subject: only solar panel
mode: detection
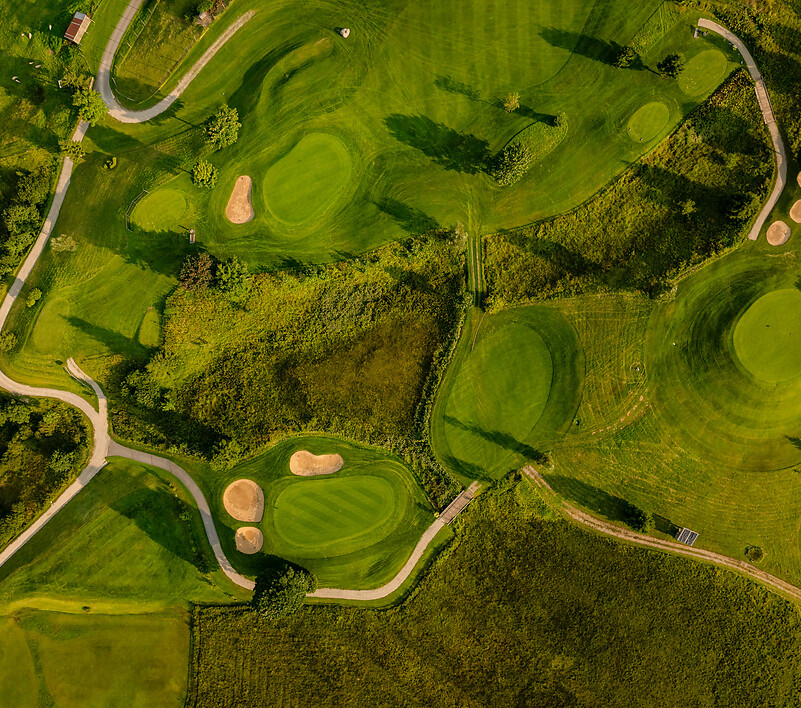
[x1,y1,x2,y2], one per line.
[677,526,699,546]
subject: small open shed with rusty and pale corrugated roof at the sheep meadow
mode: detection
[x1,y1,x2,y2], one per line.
[64,12,101,45]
